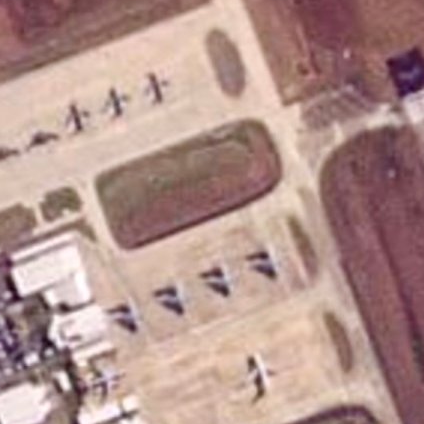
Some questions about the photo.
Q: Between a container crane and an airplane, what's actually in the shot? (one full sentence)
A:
This aerial view contains an airplane.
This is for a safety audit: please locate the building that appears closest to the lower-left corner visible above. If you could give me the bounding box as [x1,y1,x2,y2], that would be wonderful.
[0,383,53,424]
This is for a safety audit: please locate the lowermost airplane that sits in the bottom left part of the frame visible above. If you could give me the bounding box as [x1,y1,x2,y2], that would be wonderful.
[87,366,122,393]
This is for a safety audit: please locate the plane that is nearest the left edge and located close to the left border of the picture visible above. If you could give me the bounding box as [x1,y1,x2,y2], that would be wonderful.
[0,145,23,163]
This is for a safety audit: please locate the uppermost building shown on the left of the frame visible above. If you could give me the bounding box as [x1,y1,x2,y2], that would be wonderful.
[11,233,78,264]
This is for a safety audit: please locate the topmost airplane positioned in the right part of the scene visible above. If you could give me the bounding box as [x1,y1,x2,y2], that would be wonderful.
[248,247,275,274]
